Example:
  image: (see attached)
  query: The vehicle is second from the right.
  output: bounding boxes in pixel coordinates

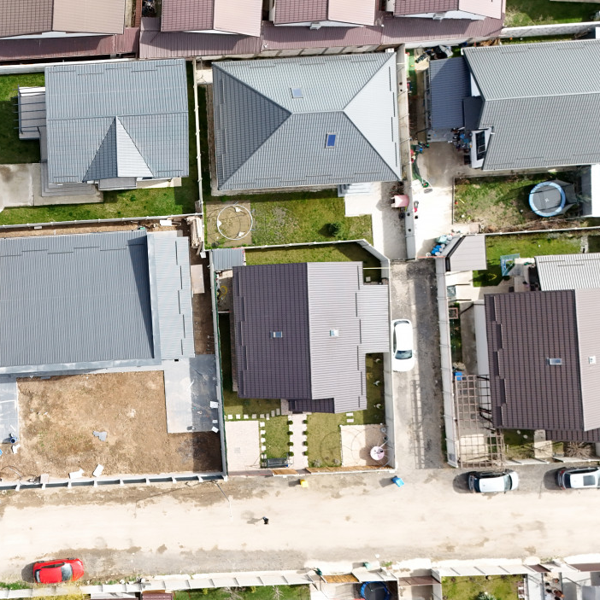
[466,469,517,496]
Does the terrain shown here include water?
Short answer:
No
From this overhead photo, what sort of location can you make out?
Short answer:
residential area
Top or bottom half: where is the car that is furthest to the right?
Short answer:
bottom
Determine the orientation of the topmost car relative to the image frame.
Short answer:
up and down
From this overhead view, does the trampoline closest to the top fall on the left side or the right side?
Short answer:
right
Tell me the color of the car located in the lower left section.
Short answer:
red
